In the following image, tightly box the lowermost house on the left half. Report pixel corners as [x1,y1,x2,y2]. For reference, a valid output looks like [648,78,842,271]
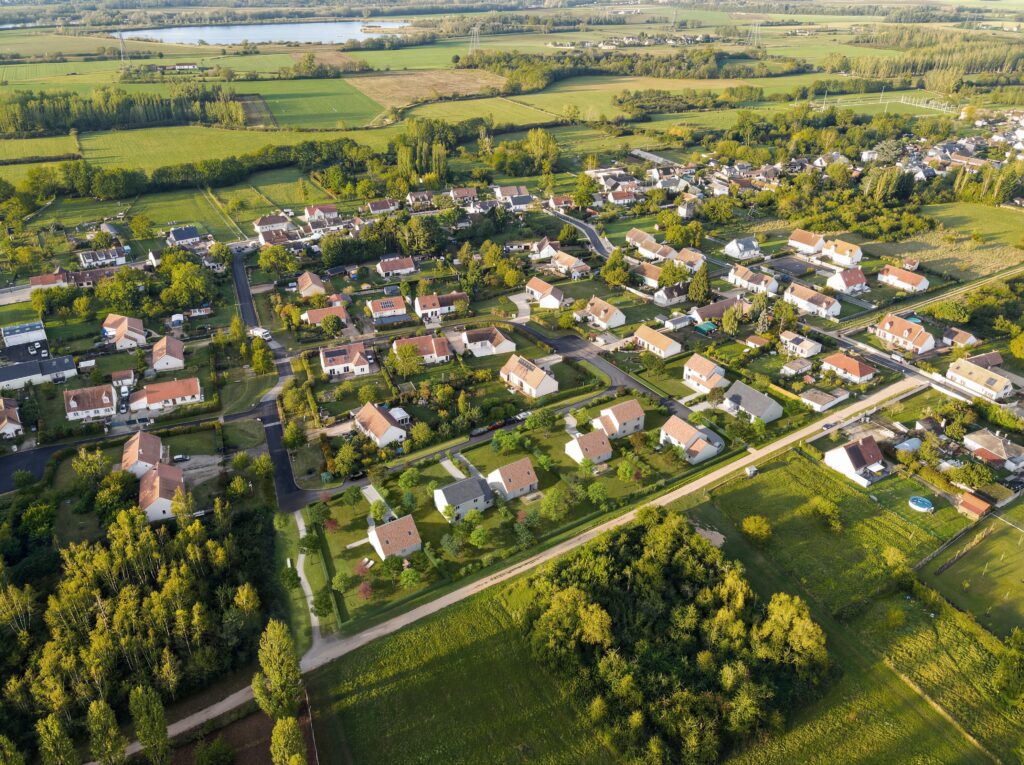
[369,514,420,559]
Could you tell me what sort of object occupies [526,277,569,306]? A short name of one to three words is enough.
house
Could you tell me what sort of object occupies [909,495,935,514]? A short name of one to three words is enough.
swimming pool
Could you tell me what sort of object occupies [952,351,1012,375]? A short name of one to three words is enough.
barn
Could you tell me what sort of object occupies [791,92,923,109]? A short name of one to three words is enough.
sports field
